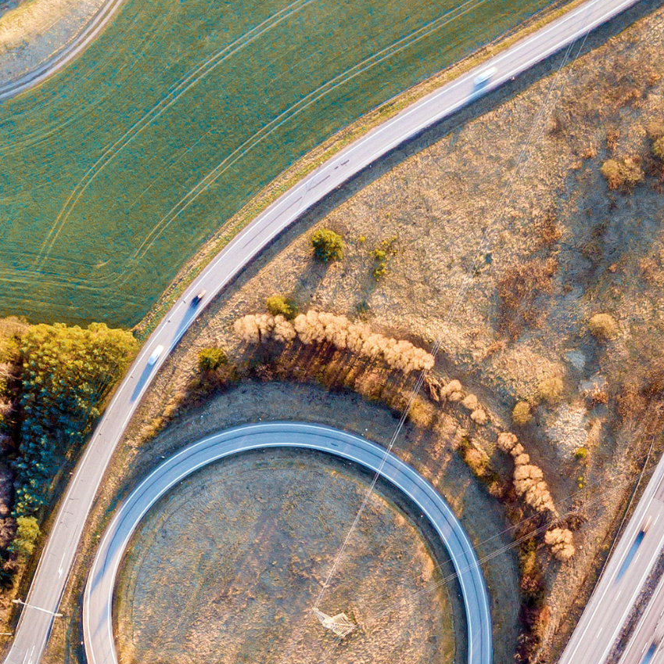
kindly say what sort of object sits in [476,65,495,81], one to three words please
vehicle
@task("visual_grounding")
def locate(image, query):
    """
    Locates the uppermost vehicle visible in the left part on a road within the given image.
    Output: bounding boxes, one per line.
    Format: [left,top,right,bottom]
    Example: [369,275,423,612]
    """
[189,291,203,307]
